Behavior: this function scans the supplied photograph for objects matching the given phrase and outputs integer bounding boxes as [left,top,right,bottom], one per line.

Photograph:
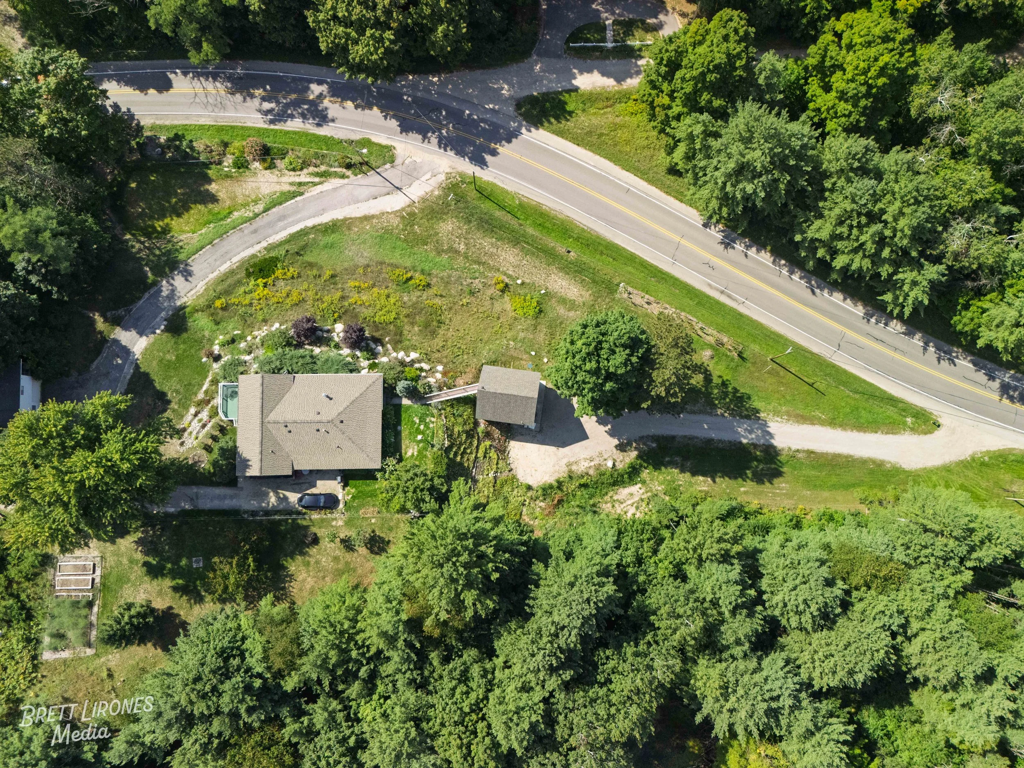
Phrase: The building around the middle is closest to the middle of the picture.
[476,365,541,425]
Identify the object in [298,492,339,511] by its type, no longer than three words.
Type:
car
